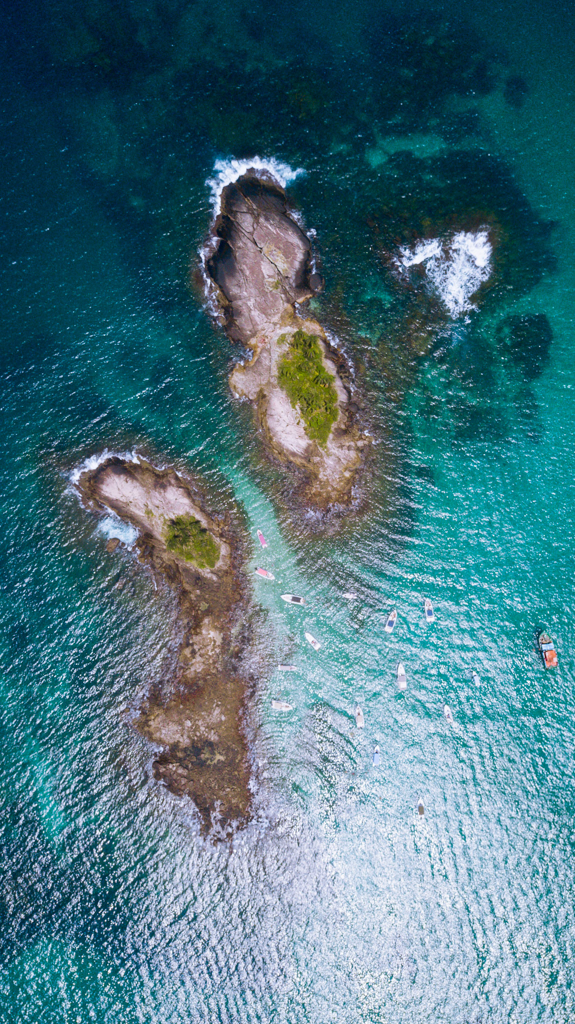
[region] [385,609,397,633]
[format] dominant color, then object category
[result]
white boat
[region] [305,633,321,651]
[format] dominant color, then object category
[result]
white boat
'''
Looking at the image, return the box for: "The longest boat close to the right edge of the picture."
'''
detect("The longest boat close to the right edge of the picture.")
[541,631,559,670]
